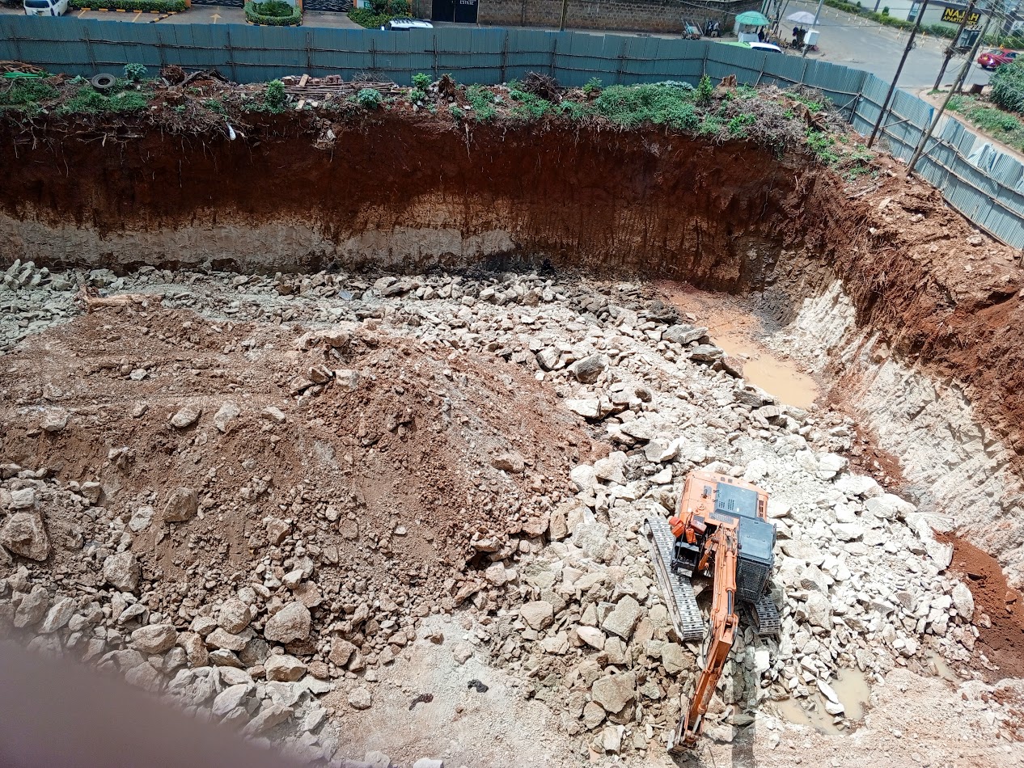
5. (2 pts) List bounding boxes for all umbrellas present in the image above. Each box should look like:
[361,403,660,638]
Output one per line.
[730,10,772,39]
[782,12,821,46]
